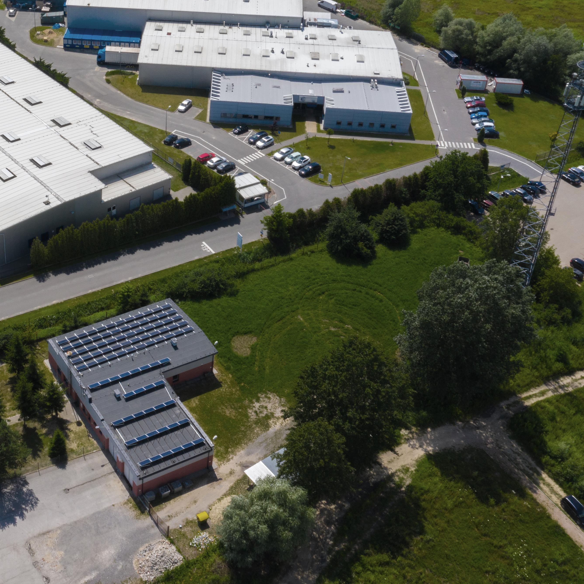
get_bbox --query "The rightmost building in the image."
[492,75,524,93]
